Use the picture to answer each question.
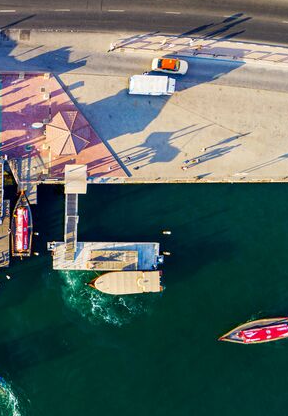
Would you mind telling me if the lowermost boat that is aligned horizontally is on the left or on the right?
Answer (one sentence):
It is on the right.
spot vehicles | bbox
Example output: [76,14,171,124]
[151,57,187,73]
[125,75,173,97]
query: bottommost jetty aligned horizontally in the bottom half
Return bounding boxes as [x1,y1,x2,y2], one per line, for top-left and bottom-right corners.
[52,242,159,270]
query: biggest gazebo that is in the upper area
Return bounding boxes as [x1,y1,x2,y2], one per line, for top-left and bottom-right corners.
[44,110,91,156]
